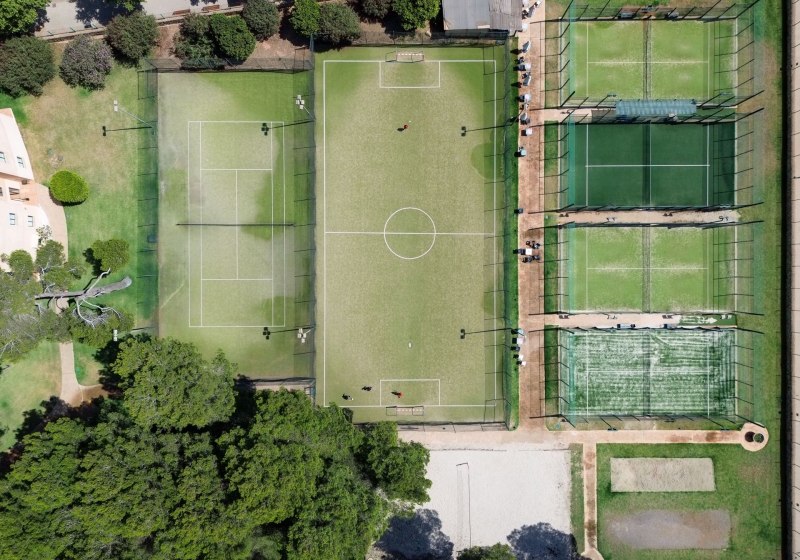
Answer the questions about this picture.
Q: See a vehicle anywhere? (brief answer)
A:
No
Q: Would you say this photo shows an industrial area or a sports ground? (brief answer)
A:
sports ground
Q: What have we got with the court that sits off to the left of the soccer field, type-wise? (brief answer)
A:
tennis court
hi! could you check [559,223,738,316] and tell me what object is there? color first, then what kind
green sports court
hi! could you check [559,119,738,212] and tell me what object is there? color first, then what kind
green sports court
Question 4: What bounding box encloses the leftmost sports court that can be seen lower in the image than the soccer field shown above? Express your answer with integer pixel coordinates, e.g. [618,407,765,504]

[368,450,571,560]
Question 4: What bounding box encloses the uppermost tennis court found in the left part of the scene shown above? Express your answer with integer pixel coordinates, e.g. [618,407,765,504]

[158,71,316,380]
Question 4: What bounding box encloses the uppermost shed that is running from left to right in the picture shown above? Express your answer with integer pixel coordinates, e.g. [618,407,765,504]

[444,0,521,37]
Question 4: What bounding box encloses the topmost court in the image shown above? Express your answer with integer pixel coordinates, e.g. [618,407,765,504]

[559,17,738,109]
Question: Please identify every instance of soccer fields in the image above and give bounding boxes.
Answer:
[316,44,506,425]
